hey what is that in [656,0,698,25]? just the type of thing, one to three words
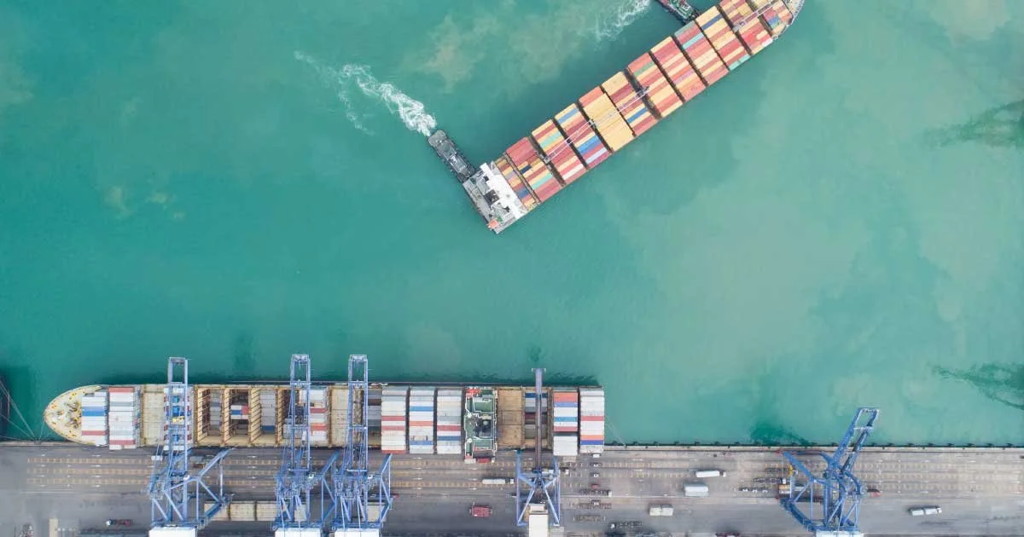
boat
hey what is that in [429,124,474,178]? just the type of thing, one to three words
boat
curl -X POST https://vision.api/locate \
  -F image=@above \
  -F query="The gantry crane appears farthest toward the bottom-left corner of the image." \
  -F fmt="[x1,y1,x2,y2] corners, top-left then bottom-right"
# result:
[139,355,239,537]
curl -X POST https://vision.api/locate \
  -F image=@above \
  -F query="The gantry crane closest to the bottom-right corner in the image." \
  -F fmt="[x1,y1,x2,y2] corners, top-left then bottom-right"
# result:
[777,409,882,537]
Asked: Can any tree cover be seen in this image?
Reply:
No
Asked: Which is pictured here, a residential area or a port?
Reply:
port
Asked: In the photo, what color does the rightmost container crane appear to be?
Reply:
blue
